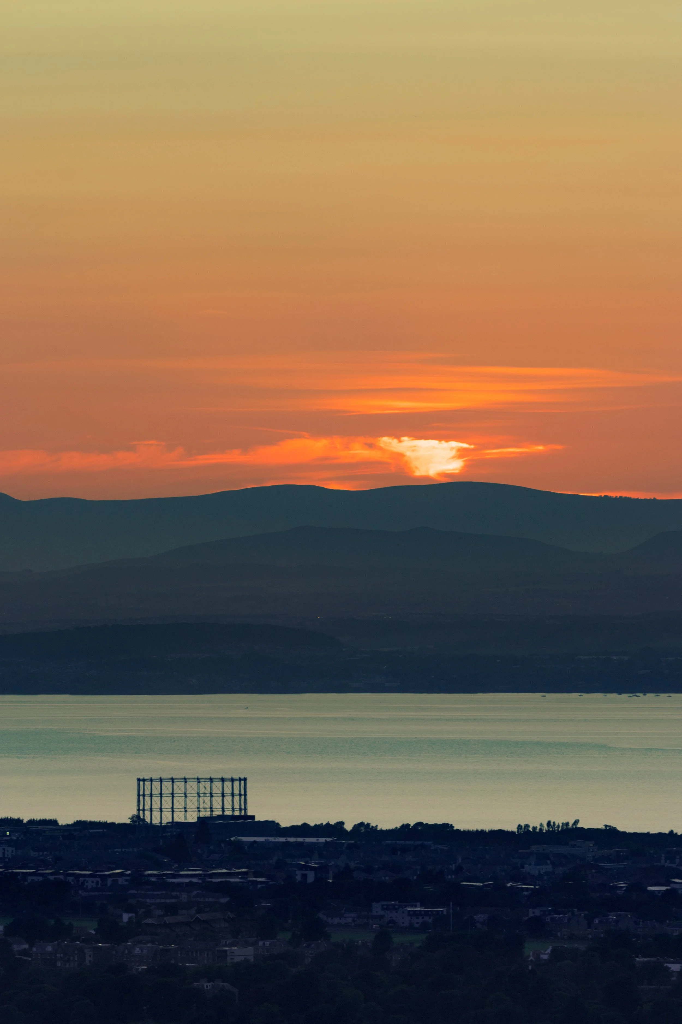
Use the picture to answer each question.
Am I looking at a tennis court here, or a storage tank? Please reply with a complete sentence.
Of the two, only a storage tank appears.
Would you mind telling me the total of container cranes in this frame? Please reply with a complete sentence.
Not a single container crane can be seen.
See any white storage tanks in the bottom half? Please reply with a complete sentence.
No, I can find no white storage tank in the bottom half.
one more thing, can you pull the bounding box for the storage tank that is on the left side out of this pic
[137,775,248,831]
